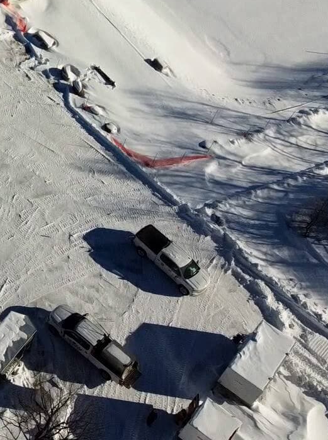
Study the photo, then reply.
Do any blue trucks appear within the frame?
No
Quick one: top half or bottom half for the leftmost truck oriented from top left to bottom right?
bottom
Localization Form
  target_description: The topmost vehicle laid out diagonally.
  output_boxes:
[127,225,211,301]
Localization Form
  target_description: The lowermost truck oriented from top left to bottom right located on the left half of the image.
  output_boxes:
[39,298,151,393]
